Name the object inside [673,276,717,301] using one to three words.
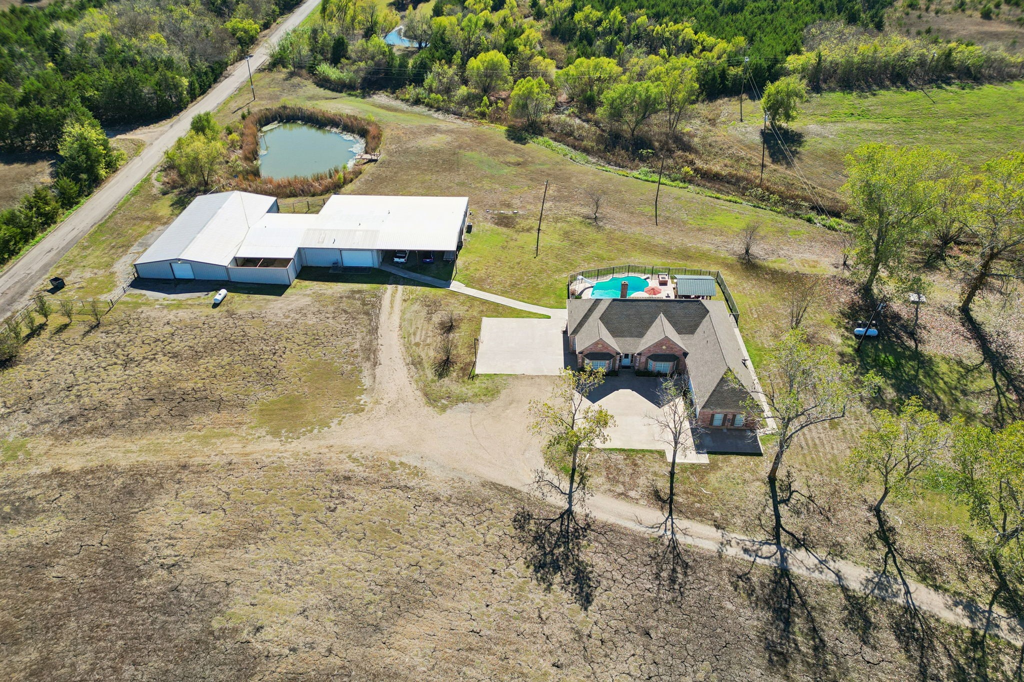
building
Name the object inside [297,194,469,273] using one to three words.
building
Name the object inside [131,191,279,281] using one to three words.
barn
